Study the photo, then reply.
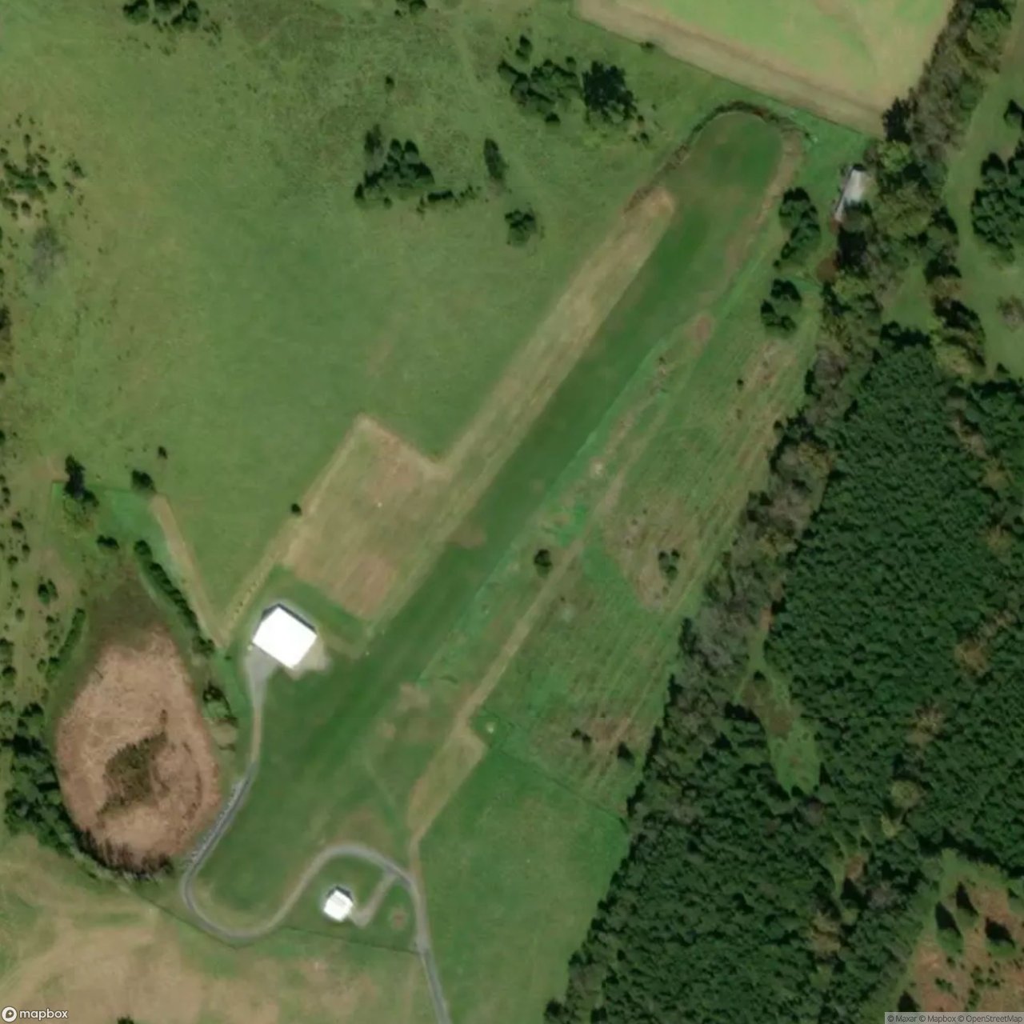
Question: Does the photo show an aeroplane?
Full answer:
No, there's no aeroplane here.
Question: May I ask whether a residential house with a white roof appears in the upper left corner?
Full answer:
No, there is no residential house with a white roof in the upper left corner.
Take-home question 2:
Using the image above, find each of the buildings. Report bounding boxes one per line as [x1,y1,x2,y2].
[254,607,317,669]
[323,891,353,922]
[835,167,869,219]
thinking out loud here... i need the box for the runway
[210,112,782,872]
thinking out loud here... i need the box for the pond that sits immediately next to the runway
[56,626,221,867]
